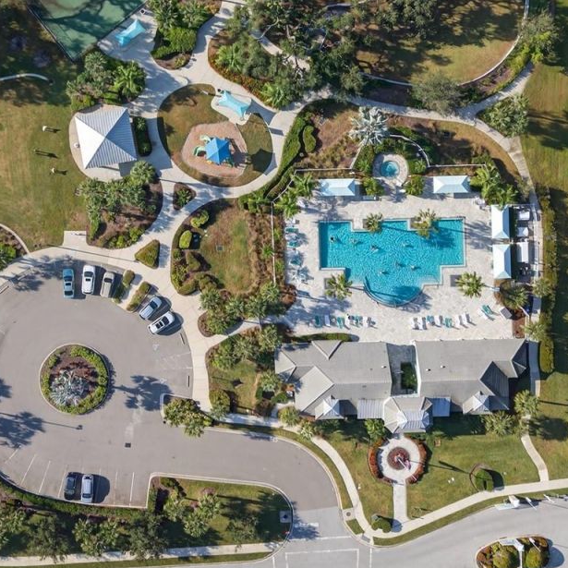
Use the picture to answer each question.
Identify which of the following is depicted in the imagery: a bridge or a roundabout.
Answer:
roundabout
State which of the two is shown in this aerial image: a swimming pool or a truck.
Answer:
swimming pool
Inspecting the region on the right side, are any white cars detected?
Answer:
No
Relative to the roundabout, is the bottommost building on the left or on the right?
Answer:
to its right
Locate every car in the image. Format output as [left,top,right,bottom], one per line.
[61,267,75,298]
[147,309,178,336]
[80,264,96,297]
[137,294,167,322]
[63,469,79,501]
[80,471,95,505]
[100,268,115,299]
